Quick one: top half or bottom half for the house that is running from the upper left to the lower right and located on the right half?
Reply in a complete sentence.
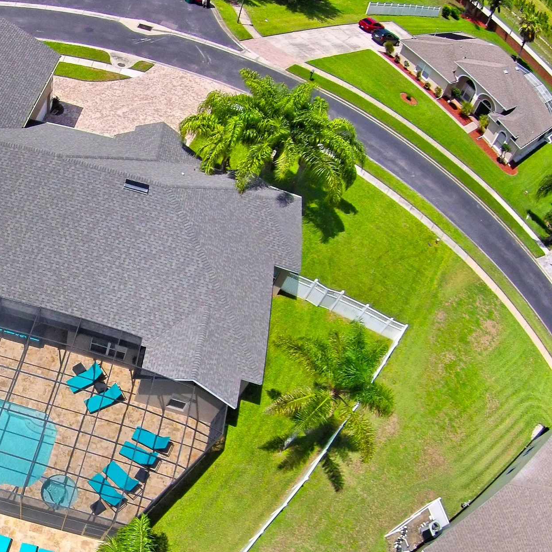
It is in the top half that the house that is running from the upper left to the lower right and located on the right half appears.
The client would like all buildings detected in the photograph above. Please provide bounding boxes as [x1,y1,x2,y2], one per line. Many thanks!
[422,426,552,552]
[397,32,552,161]
[0,16,302,420]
